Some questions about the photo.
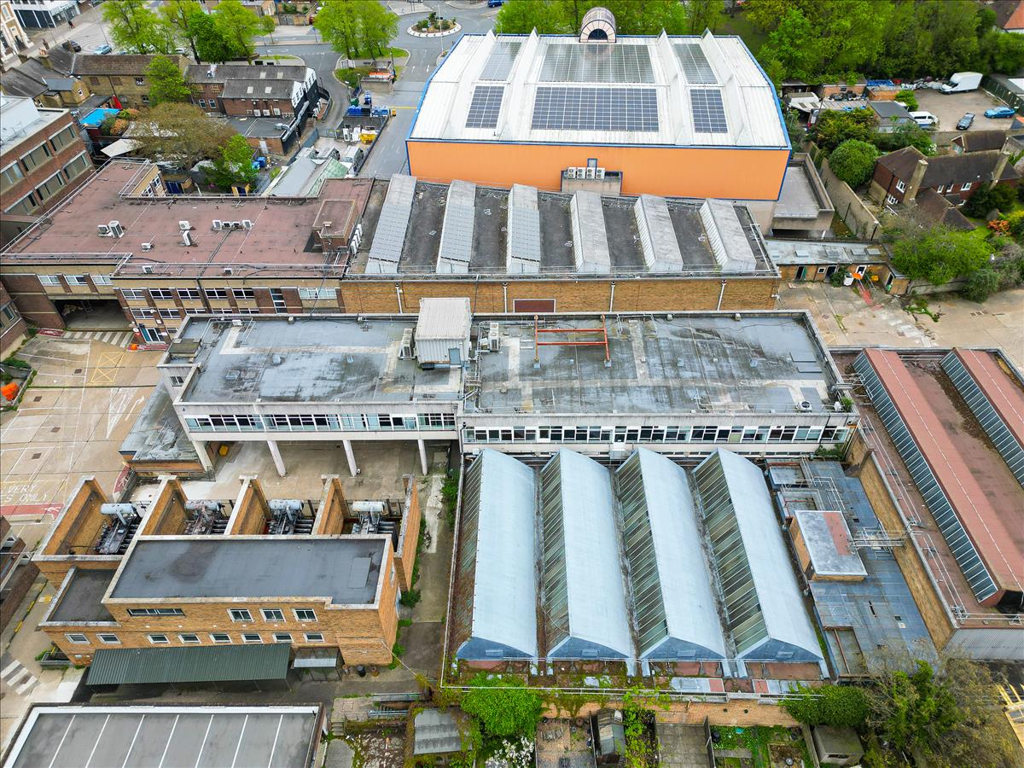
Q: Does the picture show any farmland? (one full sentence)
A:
No, no farmland is visible.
